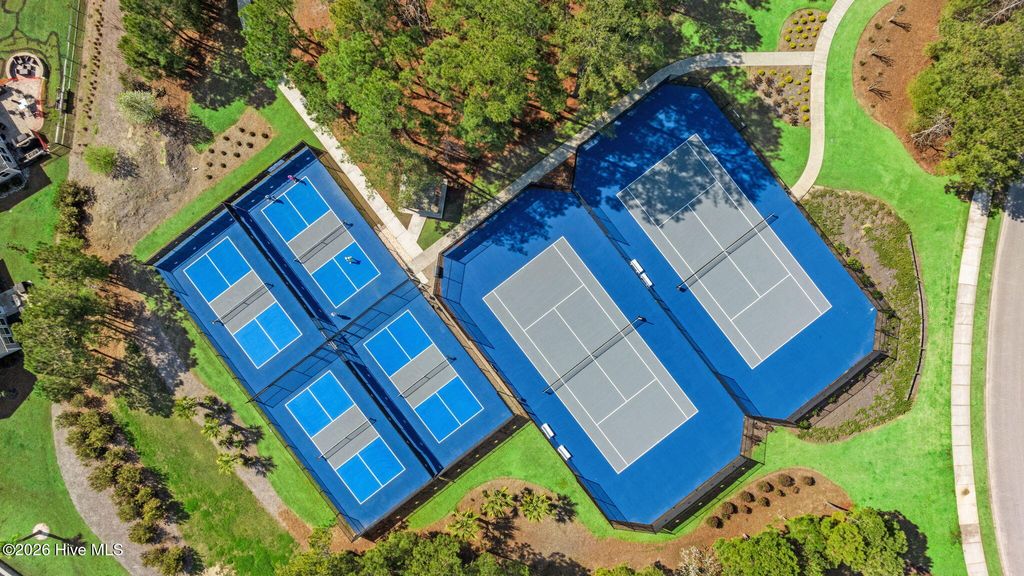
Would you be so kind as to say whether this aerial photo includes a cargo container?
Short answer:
No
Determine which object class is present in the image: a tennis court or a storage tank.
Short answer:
tennis court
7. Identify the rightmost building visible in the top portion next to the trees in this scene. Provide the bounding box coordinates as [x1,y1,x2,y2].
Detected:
[403,173,447,218]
